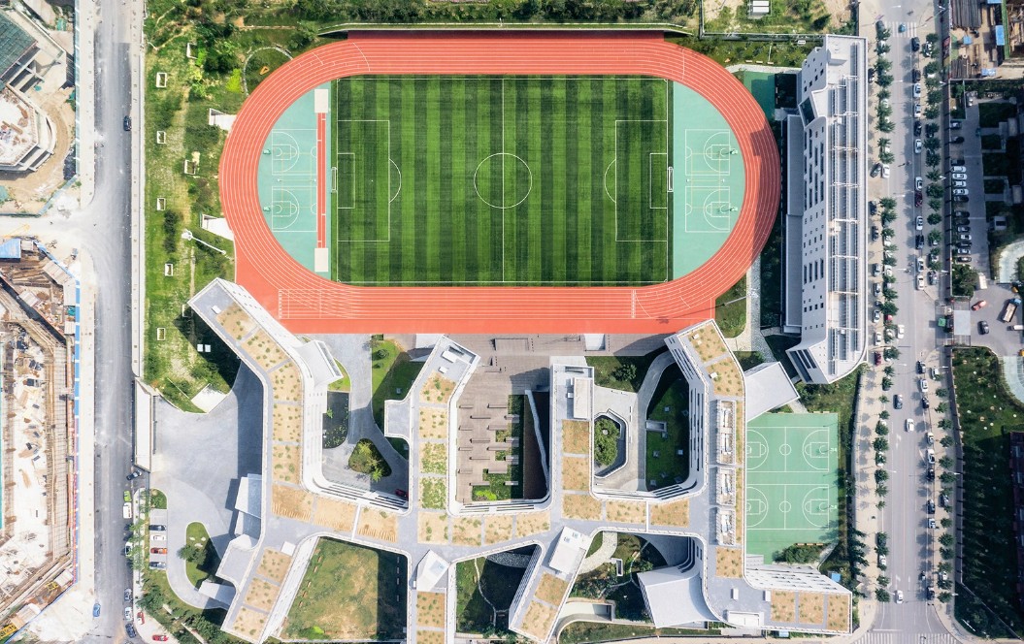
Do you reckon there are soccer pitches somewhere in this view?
Yes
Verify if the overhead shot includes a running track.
Yes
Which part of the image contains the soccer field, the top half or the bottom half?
top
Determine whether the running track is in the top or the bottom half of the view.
top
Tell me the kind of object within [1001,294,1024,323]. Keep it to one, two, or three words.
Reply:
truck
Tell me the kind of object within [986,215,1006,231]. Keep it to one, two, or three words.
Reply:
building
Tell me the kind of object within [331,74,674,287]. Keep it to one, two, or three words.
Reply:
soccer field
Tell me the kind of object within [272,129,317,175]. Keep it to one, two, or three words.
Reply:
basketball court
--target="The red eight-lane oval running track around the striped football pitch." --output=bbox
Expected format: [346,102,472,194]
[220,31,780,333]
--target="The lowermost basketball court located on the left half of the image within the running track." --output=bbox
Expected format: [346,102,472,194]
[272,186,317,231]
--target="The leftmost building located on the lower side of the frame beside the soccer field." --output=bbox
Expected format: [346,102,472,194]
[187,278,852,644]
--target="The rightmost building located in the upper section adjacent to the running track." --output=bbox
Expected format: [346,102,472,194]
[771,34,869,384]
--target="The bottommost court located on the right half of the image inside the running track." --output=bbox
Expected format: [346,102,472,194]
[686,186,730,232]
